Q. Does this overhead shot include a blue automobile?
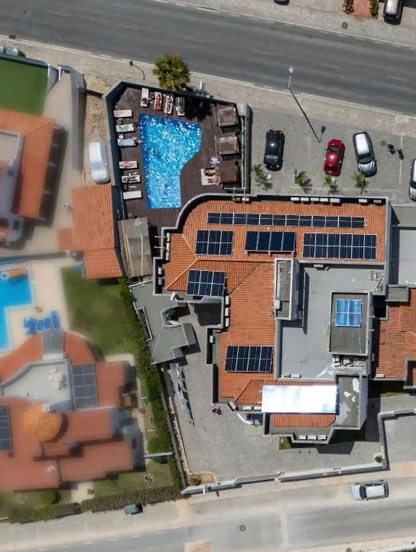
No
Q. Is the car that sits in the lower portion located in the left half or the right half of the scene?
right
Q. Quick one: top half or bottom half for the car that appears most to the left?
top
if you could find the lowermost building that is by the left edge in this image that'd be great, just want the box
[0,331,154,490]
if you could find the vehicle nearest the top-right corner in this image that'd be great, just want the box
[383,0,404,28]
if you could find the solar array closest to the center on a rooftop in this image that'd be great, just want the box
[187,270,227,293]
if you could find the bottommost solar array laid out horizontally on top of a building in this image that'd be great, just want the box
[262,385,338,412]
